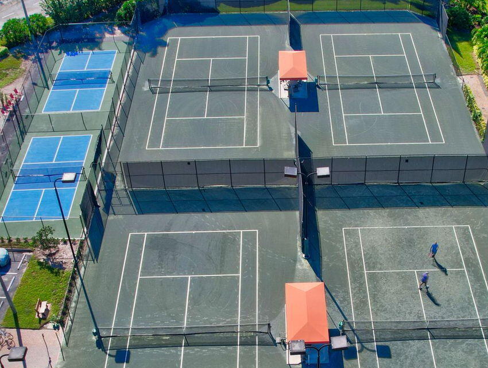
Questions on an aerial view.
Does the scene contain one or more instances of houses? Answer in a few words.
No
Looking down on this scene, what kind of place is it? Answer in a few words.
sports ground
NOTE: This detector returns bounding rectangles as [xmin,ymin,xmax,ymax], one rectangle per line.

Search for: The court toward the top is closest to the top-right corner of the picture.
[288,9,488,186]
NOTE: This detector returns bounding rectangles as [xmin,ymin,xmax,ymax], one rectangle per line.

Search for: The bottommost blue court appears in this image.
[0,123,114,237]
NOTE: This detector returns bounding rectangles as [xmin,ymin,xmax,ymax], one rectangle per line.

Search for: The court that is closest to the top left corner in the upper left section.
[26,47,134,124]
